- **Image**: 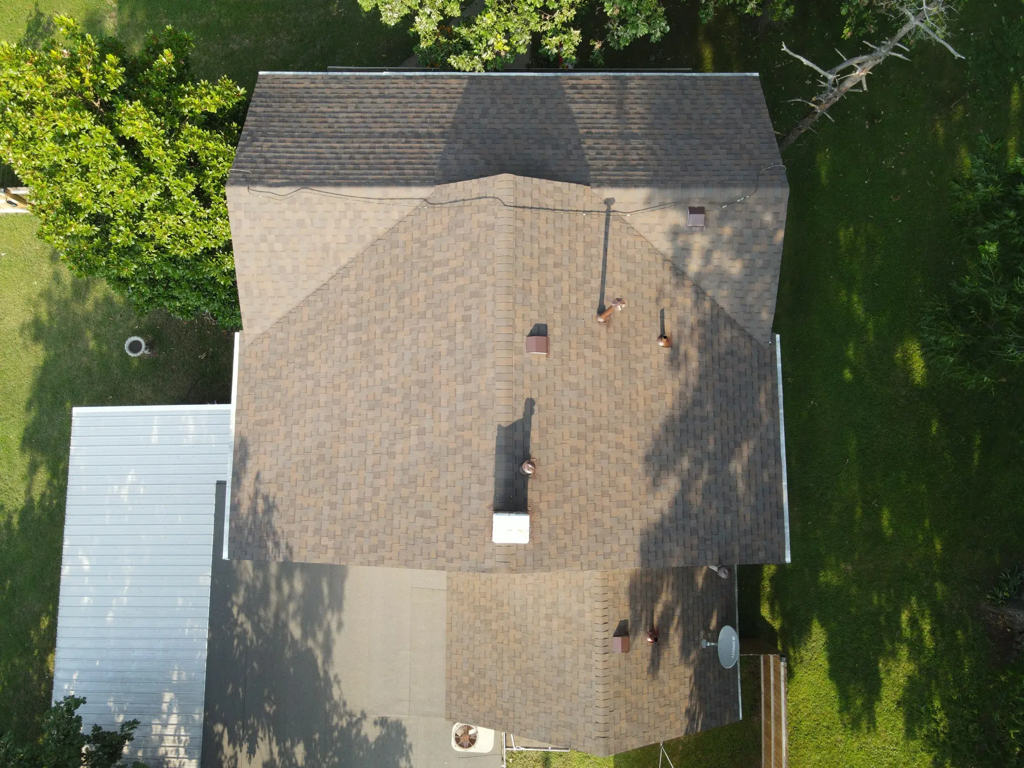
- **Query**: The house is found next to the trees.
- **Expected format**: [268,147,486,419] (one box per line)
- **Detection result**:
[204,70,790,768]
